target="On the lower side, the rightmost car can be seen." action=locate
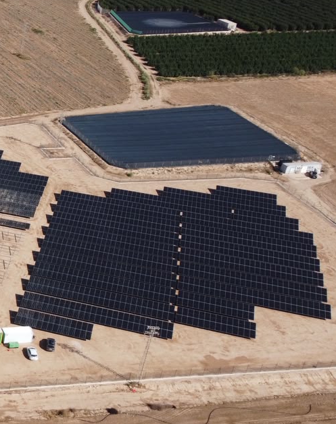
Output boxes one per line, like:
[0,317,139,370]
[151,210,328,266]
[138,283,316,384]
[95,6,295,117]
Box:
[44,334,57,352]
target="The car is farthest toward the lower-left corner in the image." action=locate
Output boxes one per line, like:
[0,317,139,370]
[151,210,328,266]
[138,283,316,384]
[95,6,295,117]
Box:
[24,345,38,361]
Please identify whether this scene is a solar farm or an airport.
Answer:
solar farm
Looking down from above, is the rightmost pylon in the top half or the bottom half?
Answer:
bottom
